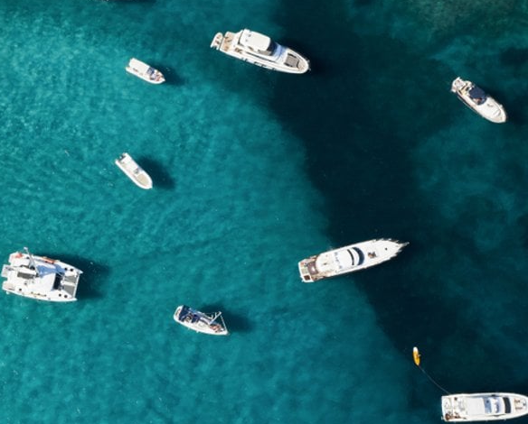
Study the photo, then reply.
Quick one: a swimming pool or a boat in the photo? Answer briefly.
boat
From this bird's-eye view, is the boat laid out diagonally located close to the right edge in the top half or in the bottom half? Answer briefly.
top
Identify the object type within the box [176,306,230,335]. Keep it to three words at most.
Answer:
boat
